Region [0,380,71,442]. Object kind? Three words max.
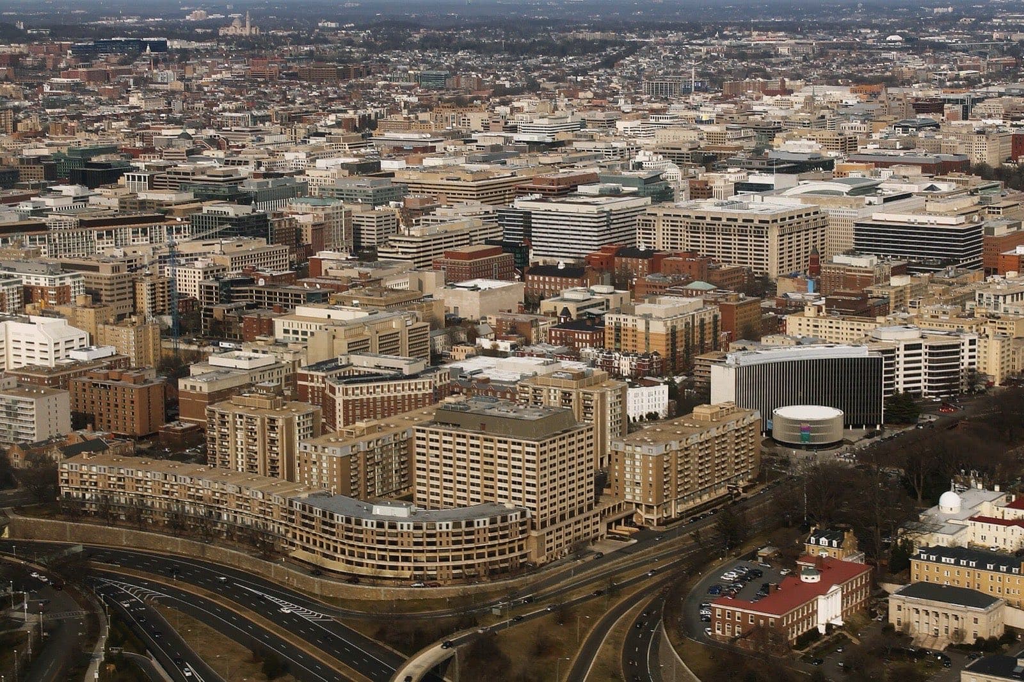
building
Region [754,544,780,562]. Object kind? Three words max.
shed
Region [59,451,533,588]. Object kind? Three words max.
building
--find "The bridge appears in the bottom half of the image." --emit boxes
[388,634,506,682]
